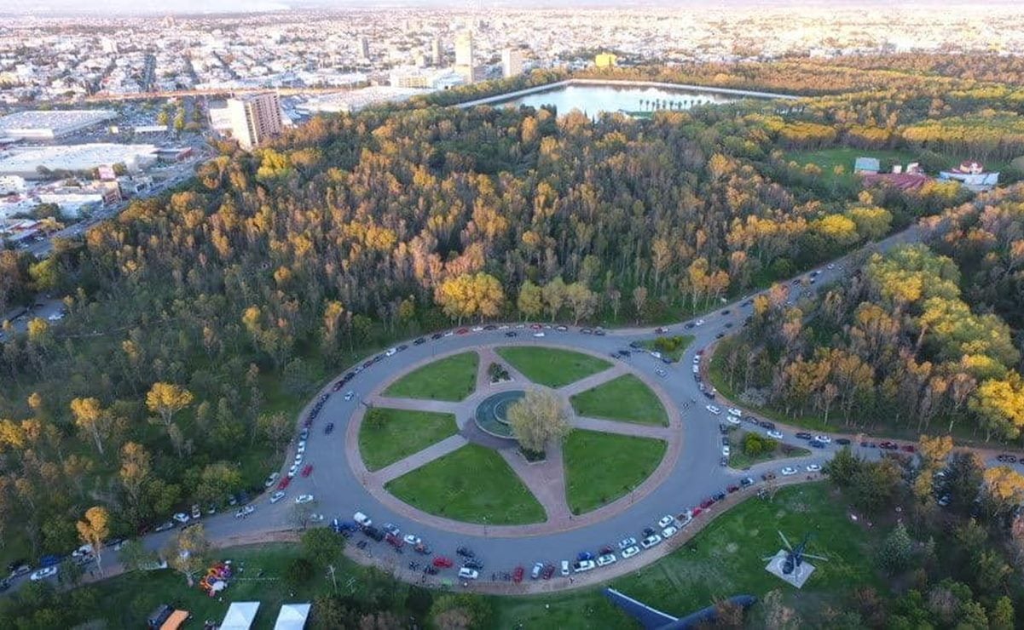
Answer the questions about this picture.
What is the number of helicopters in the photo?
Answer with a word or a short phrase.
one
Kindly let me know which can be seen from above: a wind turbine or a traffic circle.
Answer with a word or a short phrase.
traffic circle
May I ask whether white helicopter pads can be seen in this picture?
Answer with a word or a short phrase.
No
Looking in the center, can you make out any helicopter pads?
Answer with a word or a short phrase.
No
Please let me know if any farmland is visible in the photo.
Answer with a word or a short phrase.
No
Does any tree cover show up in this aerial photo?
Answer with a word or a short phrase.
Yes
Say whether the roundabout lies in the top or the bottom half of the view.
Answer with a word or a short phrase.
bottom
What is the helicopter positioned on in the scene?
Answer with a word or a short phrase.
grass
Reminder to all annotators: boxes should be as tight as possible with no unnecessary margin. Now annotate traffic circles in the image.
[246,315,810,582]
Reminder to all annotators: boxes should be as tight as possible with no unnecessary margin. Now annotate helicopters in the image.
[763,524,829,580]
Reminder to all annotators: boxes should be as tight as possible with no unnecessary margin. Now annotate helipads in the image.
[767,548,816,588]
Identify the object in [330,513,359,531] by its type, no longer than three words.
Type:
vehicle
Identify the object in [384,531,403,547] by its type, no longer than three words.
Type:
car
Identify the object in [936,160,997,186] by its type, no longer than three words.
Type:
building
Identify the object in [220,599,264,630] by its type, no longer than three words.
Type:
tent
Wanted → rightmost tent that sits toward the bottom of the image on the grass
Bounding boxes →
[274,600,312,630]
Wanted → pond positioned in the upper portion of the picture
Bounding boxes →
[441,77,798,118]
